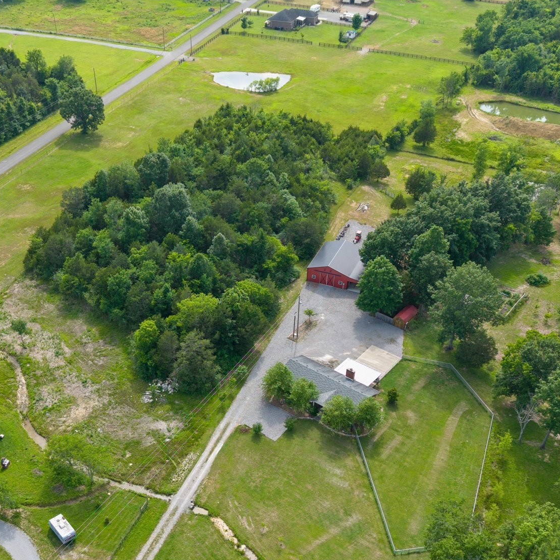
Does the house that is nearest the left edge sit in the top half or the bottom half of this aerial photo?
top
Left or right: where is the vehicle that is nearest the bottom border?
left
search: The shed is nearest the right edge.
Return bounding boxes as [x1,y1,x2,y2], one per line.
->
[394,308,422,330]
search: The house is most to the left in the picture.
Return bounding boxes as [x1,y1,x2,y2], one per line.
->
[270,9,323,30]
